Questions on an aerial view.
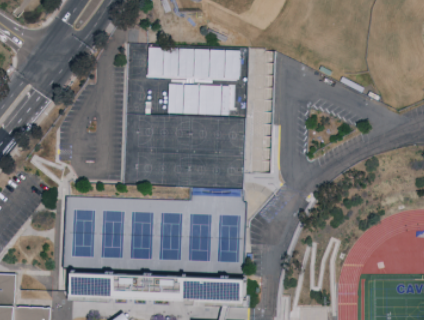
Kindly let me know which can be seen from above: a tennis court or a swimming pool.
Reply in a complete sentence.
Looking from above, you can make out a tennis court.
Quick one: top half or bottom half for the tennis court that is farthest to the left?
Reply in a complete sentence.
The tennis court that is farthest to the left is in the bottom half of the image.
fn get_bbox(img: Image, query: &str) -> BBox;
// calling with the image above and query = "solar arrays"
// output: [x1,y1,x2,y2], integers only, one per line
[184,282,238,300]
[72,278,110,296]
